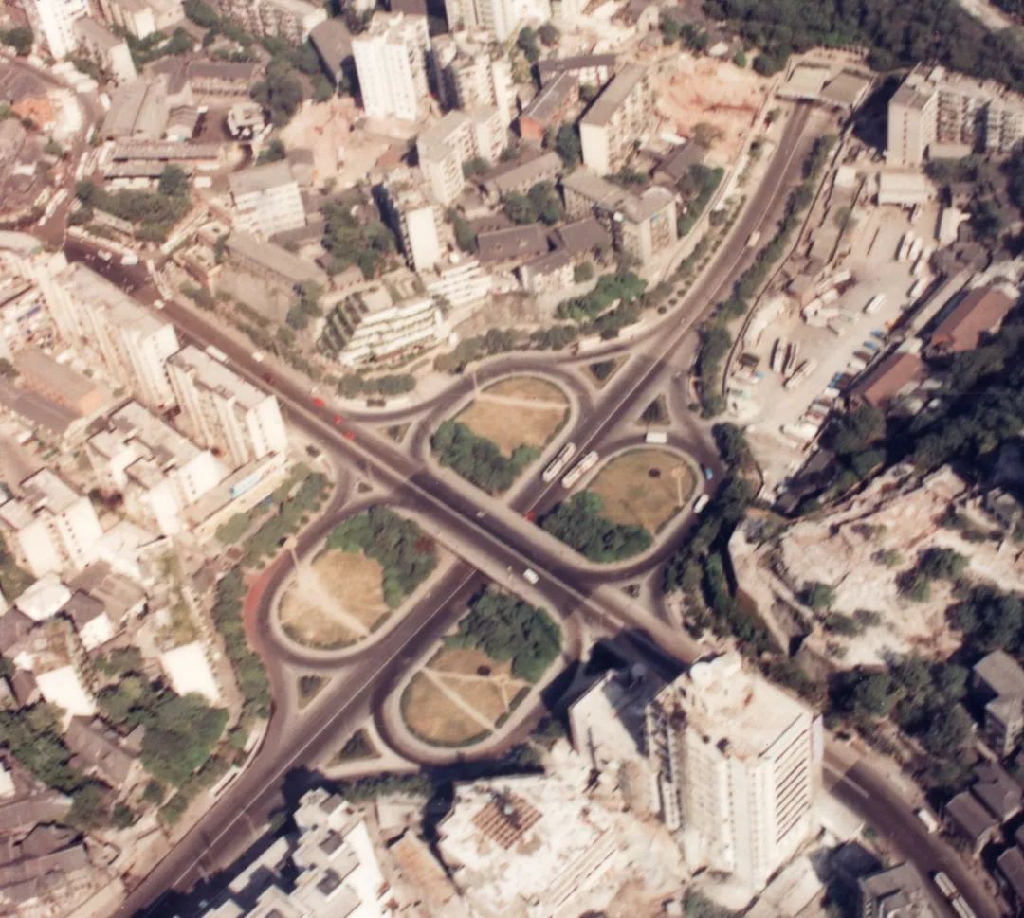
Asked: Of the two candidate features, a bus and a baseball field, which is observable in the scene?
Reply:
bus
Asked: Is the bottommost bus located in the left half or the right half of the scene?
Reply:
right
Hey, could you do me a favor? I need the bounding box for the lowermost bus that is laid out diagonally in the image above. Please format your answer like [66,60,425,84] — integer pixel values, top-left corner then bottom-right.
[936,872,973,918]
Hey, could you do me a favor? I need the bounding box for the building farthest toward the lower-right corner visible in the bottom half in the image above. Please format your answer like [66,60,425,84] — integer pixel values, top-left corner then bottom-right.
[995,844,1024,910]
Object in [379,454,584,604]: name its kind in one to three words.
overpass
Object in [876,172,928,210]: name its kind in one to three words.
building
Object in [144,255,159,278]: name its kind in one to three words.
vehicle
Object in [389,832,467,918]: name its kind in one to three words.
shed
